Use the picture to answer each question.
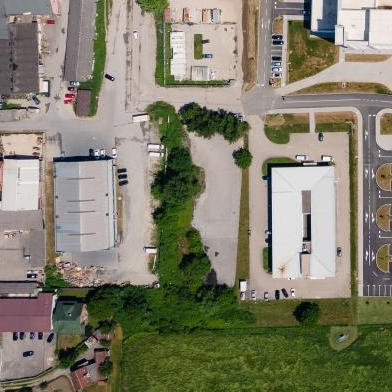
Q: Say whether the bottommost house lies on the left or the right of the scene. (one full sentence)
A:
The bottommost house sits on the left side.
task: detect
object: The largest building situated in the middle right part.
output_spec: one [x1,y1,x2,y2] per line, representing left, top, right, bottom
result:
[271,162,336,278]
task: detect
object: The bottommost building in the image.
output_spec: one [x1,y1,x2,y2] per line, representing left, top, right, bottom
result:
[69,361,97,391]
